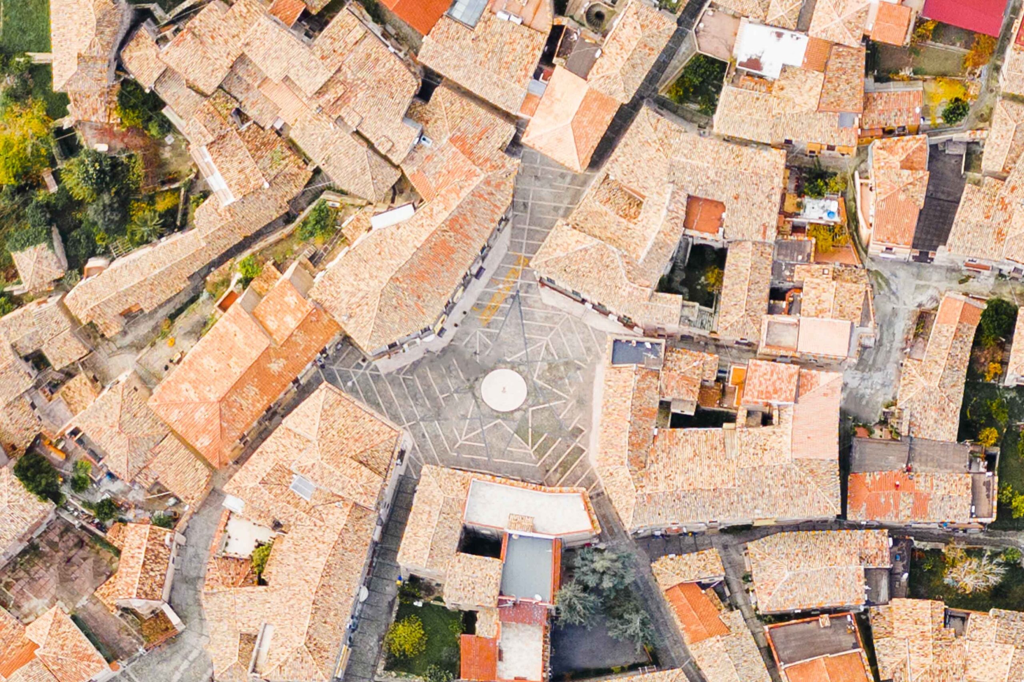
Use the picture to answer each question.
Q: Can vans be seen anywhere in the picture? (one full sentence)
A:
No, I can't see a single van in this photo.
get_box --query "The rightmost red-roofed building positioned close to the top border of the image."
[918,0,1008,46]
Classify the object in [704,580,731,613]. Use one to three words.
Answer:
building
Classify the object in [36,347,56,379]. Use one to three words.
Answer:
building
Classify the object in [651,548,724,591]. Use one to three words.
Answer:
house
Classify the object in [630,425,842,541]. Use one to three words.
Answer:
house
